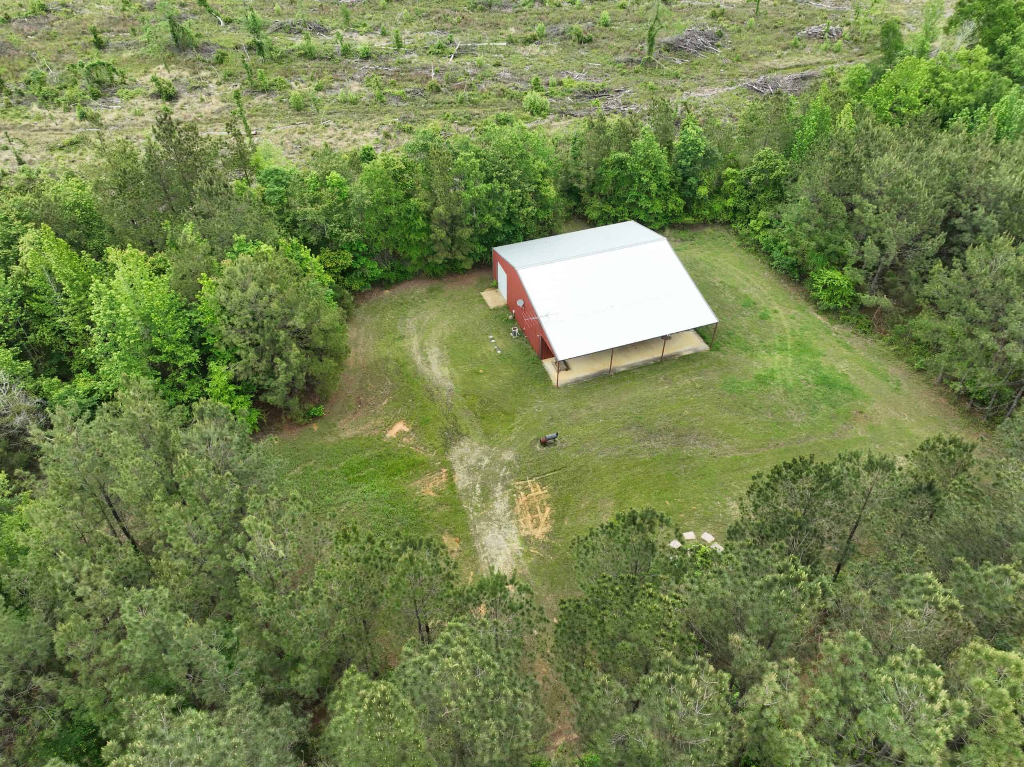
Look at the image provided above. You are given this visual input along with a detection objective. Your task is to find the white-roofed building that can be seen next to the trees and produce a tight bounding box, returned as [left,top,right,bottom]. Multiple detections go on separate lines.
[480,220,719,387]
